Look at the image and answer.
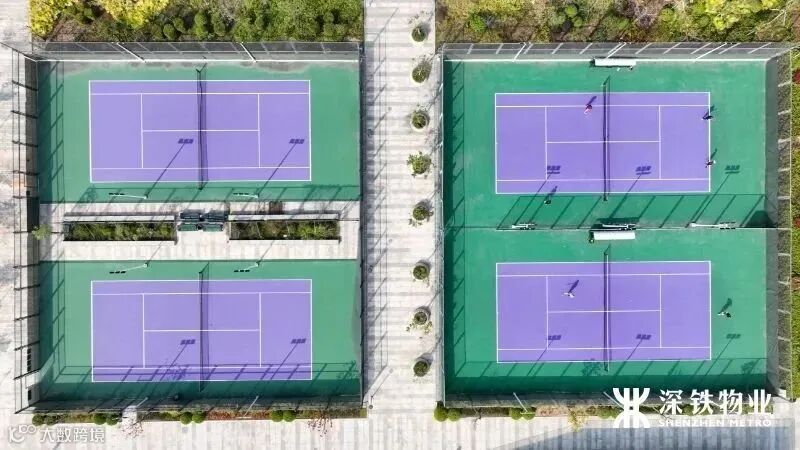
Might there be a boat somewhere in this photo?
No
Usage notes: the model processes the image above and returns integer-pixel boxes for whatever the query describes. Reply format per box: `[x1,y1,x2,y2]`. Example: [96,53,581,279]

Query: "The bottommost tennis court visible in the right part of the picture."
[441,228,766,398]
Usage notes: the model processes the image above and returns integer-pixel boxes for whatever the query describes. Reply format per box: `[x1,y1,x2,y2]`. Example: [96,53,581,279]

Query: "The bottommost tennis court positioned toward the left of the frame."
[39,257,360,399]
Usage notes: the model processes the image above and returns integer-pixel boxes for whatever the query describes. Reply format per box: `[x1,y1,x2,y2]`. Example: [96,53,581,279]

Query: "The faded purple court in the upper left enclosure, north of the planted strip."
[37,62,359,205]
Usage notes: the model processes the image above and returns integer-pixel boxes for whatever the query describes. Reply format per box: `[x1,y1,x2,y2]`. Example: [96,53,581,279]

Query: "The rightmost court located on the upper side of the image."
[440,62,765,229]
